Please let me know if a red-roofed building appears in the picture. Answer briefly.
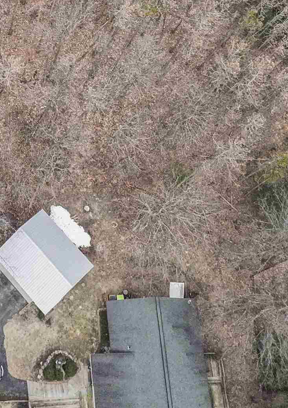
No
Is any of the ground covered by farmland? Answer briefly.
No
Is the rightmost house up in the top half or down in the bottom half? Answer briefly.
bottom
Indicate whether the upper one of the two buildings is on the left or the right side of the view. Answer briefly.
left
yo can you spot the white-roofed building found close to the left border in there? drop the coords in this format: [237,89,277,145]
[0,210,94,314]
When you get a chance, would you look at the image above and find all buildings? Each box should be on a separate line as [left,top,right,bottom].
[0,210,94,314]
[89,298,210,408]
